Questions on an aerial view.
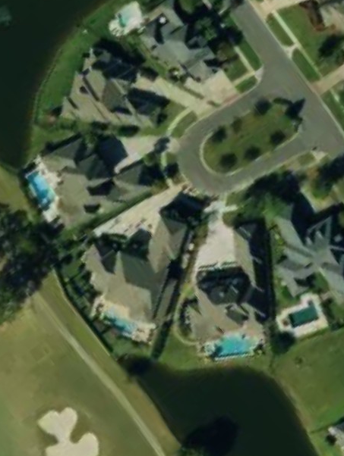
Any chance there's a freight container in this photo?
No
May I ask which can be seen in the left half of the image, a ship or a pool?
pool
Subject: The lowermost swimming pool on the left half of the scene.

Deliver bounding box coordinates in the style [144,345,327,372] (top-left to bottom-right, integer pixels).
[93,297,155,341]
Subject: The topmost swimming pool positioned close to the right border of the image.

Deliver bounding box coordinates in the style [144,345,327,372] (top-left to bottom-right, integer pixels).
[276,295,329,336]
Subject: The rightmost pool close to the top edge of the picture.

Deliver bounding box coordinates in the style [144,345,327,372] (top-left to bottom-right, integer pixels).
[109,1,142,37]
